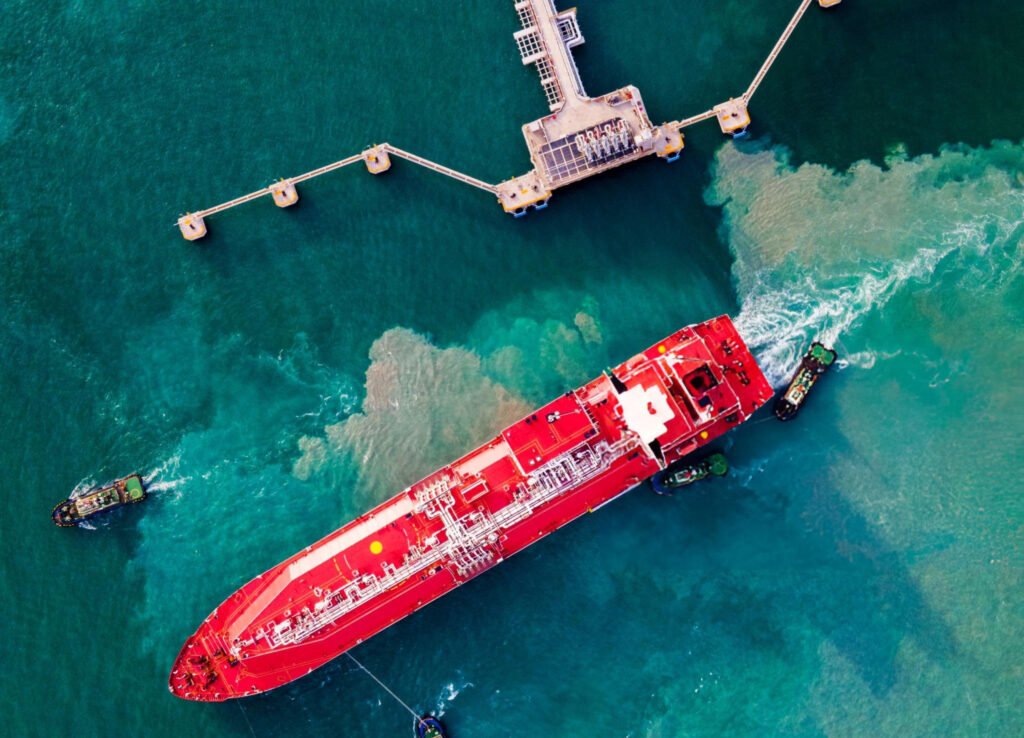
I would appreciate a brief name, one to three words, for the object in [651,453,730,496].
boat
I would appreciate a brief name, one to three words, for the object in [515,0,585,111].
pier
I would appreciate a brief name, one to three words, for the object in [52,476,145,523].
boat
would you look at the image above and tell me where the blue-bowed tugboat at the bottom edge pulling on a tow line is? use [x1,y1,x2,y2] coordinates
[418,715,450,738]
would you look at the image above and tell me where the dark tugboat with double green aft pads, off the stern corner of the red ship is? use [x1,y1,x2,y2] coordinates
[777,339,840,421]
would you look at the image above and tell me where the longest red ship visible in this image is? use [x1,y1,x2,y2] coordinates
[167,315,775,704]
